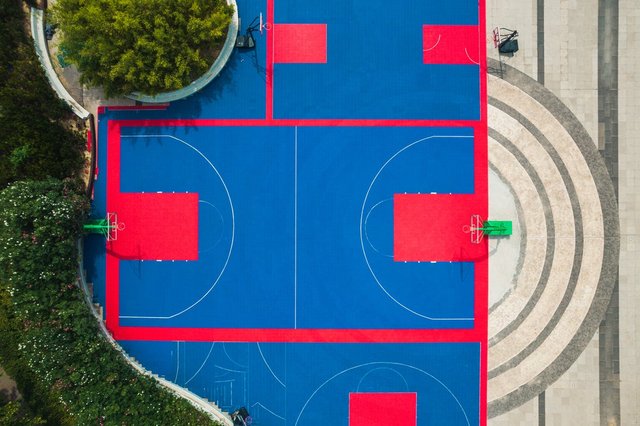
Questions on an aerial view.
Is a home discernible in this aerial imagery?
No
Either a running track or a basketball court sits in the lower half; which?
basketball court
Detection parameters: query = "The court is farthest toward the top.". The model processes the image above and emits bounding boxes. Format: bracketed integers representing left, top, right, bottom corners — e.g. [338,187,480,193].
[267,0,488,120]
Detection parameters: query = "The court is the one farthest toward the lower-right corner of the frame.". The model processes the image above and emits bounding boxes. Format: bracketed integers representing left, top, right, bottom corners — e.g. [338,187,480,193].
[286,341,488,426]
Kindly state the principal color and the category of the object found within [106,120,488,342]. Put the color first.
blue basketball court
